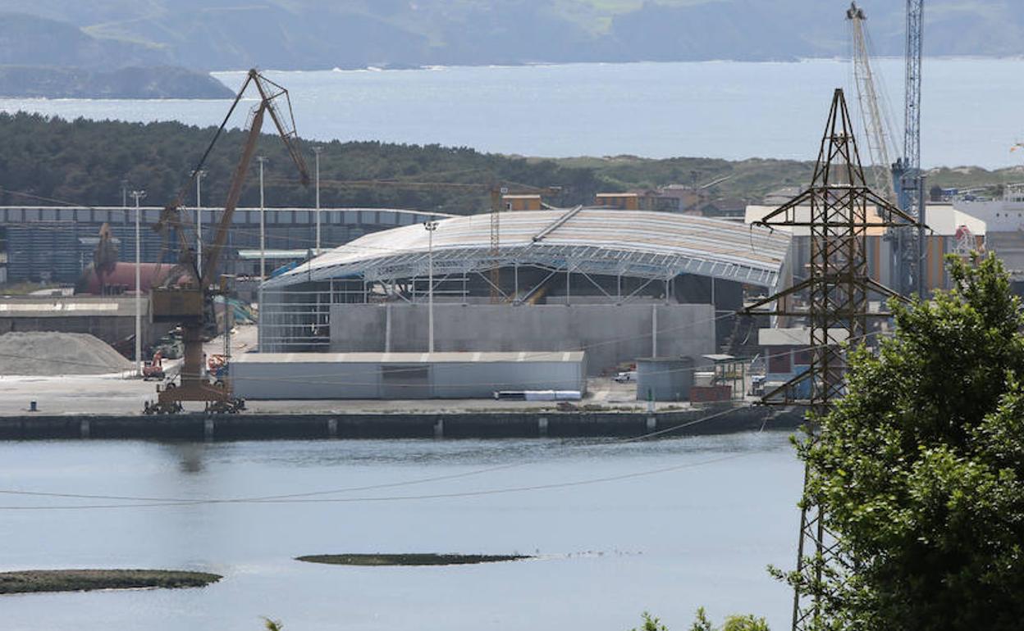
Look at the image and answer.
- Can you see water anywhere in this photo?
Yes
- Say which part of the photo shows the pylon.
right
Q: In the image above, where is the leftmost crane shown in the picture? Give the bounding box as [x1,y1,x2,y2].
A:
[142,69,312,412]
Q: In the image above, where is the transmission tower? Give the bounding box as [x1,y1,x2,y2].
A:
[721,87,949,631]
